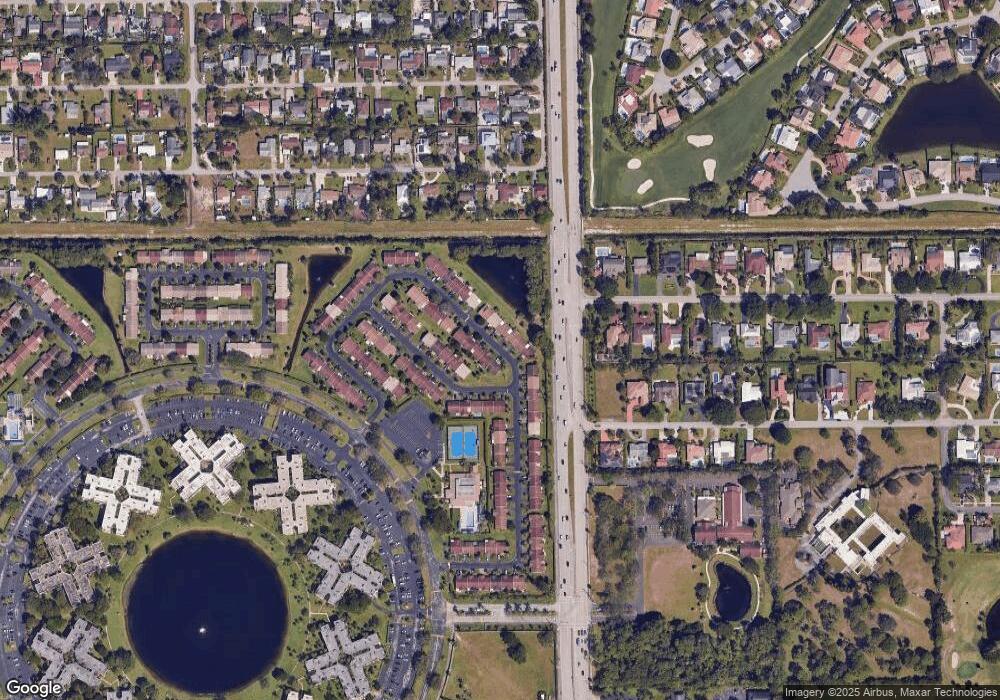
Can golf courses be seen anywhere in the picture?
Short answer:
Yes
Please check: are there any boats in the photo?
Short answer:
No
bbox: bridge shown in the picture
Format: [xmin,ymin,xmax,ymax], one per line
[551,230,583,249]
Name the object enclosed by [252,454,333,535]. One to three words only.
building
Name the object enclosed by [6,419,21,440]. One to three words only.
swimming pool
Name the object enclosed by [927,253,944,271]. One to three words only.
house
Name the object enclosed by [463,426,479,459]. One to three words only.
tennis court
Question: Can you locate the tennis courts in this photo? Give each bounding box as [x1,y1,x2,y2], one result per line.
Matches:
[448,426,463,459]
[463,426,479,459]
